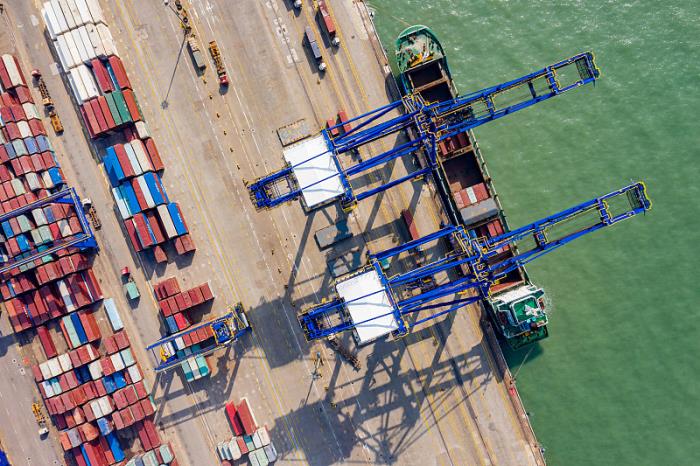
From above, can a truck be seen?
Yes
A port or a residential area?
port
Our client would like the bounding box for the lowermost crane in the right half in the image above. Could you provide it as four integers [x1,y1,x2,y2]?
[292,180,656,346]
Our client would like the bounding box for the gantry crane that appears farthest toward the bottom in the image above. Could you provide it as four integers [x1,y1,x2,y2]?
[145,299,256,374]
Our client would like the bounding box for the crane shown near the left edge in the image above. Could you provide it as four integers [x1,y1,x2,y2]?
[0,185,105,275]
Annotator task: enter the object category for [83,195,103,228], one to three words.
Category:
vehicle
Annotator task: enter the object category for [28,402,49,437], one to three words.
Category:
vehicle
